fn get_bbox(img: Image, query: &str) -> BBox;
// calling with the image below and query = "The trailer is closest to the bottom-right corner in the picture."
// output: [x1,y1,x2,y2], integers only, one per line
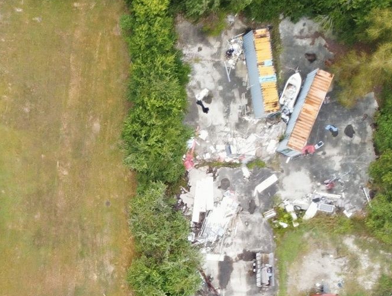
[251,252,274,289]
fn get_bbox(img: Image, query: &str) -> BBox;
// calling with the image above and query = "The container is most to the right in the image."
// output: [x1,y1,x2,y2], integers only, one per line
[279,68,333,156]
